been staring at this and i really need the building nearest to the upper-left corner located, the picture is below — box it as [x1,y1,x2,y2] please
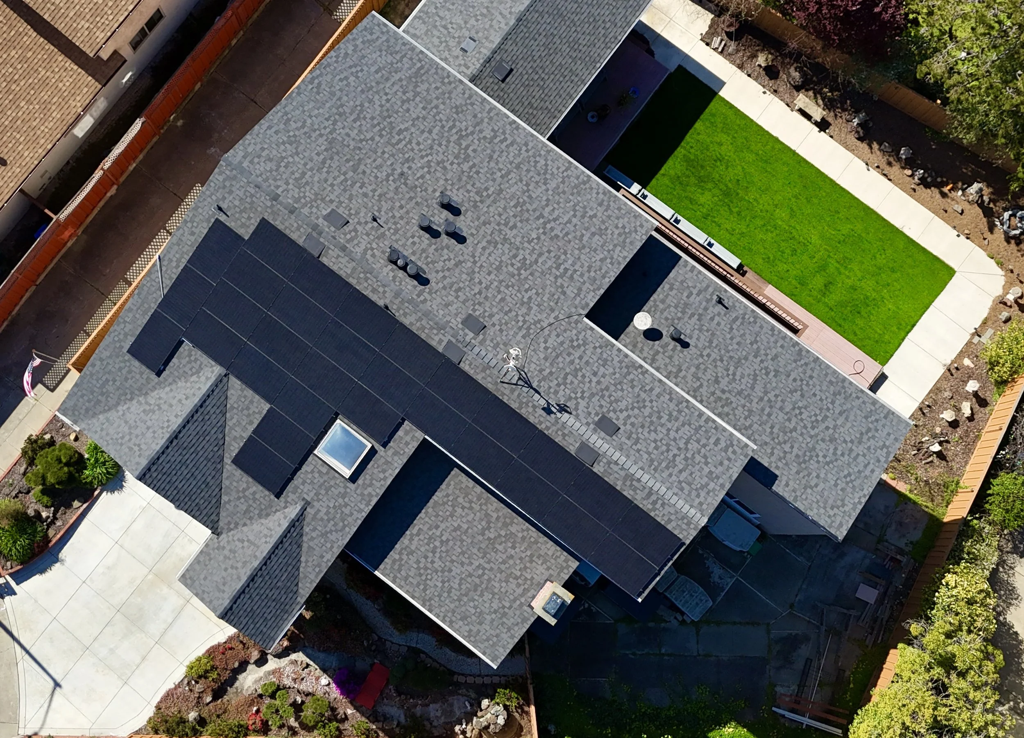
[0,0,201,244]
